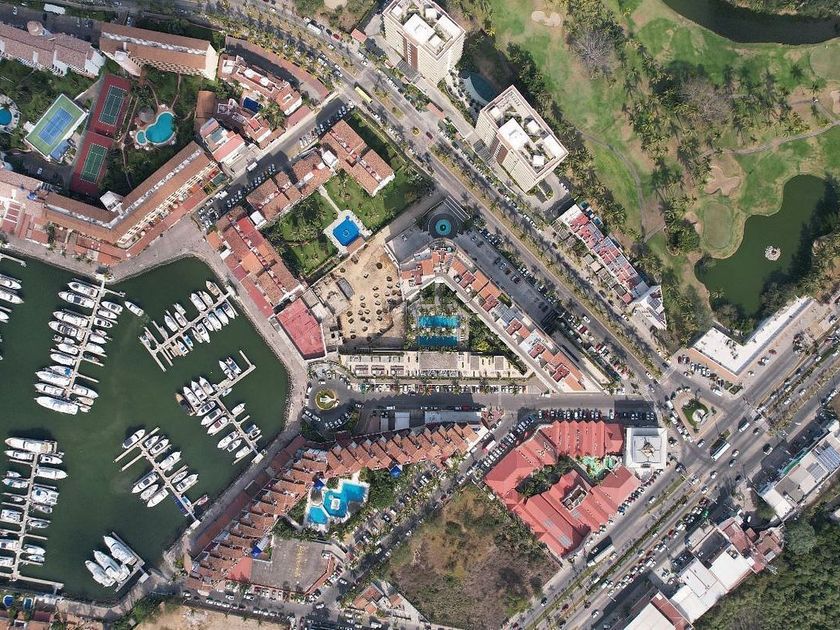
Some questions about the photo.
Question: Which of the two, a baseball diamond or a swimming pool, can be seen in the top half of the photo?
swimming pool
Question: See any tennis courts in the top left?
Yes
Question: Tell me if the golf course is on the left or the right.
right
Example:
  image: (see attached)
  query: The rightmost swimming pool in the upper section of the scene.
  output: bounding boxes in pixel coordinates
[459,71,496,107]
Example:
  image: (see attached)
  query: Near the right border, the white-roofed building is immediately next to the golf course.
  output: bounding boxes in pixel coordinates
[686,296,816,379]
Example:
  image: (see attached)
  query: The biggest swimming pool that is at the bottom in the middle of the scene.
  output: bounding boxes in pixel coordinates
[305,479,371,531]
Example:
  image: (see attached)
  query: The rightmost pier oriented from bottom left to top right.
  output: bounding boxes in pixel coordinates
[139,284,239,373]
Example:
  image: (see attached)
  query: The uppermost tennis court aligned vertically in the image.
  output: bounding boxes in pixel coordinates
[88,75,128,139]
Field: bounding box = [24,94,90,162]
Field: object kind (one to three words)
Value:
tennis court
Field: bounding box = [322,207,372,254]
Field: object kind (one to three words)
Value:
swimming pool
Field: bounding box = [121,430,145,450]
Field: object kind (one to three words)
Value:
boat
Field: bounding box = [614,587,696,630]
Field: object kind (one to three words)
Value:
building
